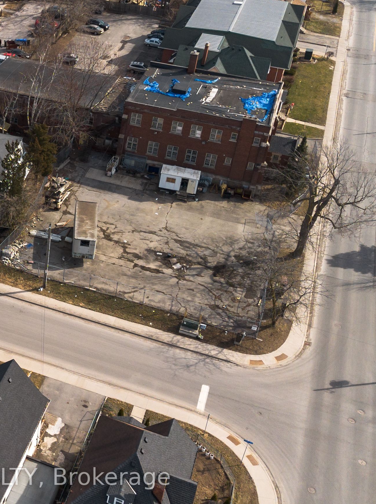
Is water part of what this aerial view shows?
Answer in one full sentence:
No, the scene doesn't show any water.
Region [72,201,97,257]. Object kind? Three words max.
trailer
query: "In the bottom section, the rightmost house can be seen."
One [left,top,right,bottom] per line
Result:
[66,414,201,504]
